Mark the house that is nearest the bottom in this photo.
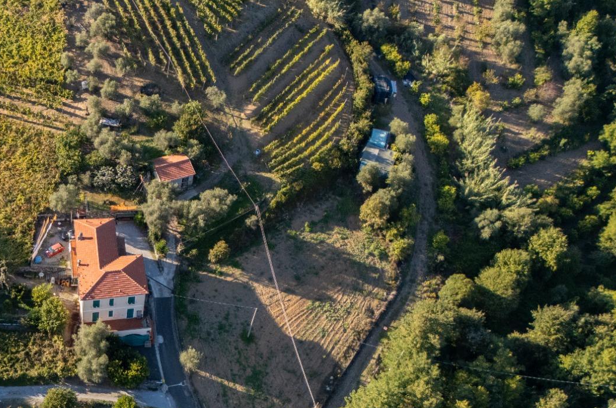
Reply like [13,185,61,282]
[63,215,150,355]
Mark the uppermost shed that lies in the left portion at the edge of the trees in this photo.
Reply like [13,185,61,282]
[147,151,195,191]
